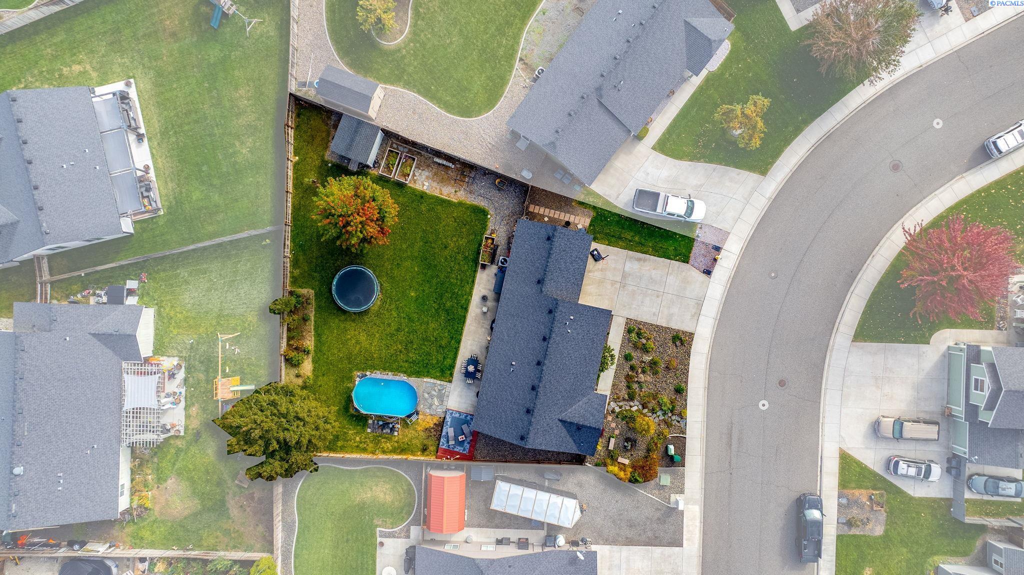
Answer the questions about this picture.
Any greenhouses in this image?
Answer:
Yes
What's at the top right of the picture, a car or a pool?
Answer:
car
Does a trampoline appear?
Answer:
Yes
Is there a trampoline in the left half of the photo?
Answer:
Yes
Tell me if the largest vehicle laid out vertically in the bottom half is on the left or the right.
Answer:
right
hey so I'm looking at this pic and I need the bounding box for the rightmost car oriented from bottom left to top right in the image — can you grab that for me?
[977,118,1024,161]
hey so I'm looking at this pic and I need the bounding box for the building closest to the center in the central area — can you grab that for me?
[475,220,611,456]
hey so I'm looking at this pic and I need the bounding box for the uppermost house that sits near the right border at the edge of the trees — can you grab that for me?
[948,345,1024,466]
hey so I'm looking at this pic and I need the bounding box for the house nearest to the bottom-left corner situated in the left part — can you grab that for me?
[0,302,158,531]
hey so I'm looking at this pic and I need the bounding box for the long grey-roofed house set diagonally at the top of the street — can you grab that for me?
[507,0,735,186]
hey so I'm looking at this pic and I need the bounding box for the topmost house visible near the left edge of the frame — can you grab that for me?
[0,86,134,266]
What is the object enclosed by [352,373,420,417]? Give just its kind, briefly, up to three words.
swimming pool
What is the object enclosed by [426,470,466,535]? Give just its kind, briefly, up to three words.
shed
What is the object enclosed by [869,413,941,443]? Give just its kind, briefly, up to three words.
car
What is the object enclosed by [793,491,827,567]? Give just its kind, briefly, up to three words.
vehicle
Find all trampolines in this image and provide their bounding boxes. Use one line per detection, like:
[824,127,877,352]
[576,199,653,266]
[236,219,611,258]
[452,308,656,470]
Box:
[328,265,380,311]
